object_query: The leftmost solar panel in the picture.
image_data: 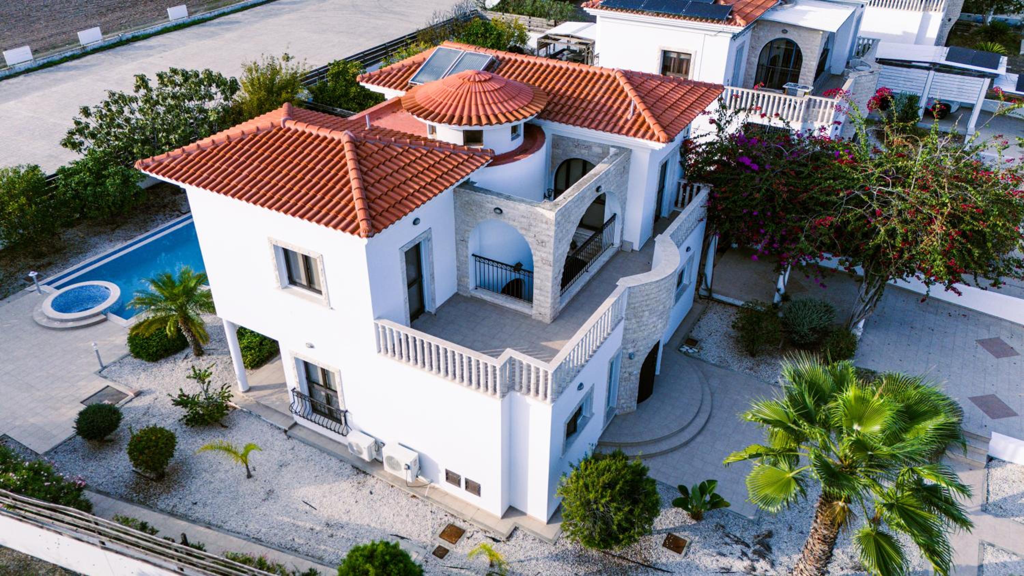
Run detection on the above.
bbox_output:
[408,45,494,84]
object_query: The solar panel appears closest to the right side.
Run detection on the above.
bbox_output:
[951,46,1006,72]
